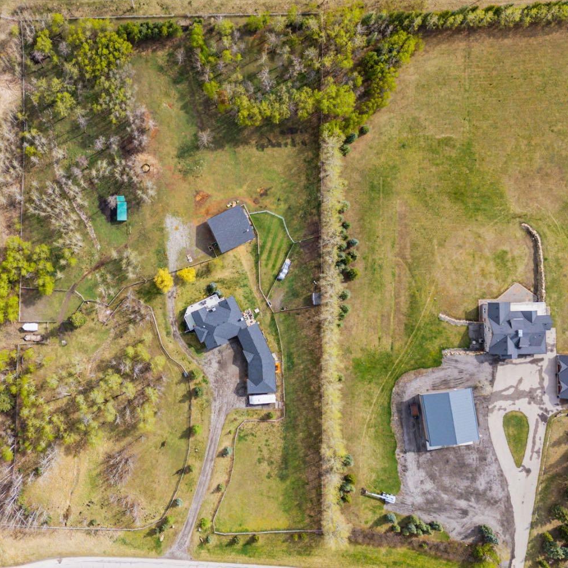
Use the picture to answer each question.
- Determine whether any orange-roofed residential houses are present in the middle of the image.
No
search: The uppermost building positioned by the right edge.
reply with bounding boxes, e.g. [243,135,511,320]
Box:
[480,302,553,359]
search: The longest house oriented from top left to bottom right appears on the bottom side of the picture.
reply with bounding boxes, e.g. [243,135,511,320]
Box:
[185,295,276,394]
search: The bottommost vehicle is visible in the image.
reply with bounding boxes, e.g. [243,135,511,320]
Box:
[361,486,398,504]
